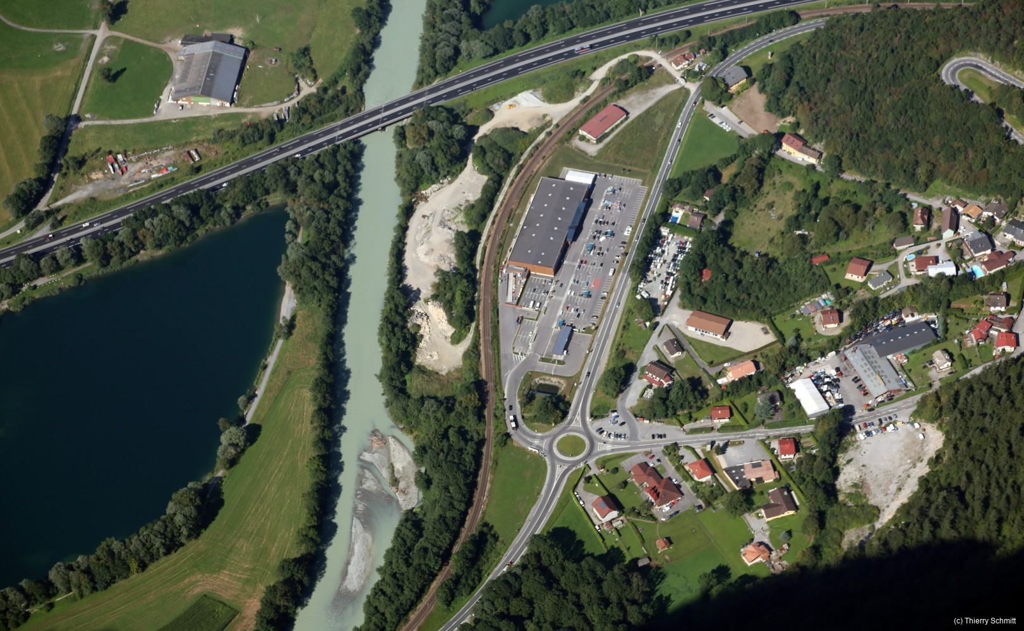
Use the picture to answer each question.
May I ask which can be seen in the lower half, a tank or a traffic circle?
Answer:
traffic circle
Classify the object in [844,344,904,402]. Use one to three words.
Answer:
building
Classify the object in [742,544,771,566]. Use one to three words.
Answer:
house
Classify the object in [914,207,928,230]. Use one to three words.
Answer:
house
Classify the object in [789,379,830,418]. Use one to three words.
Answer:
building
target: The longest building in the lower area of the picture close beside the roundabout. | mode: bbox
[630,463,682,510]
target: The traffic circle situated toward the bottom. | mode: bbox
[529,406,628,479]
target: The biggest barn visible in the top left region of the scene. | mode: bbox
[170,43,246,107]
